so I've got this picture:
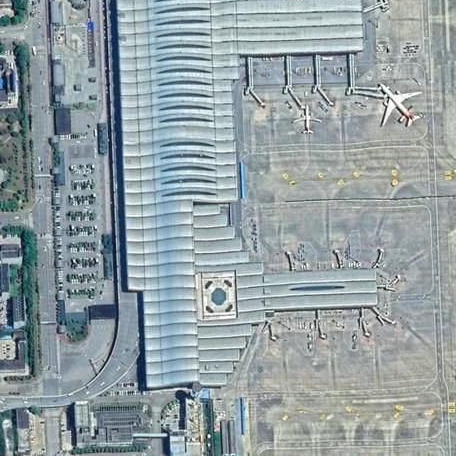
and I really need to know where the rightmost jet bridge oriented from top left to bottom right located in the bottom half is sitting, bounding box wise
[371,306,397,327]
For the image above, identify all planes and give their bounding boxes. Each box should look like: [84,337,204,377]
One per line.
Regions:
[293,105,322,133]
[378,84,422,125]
